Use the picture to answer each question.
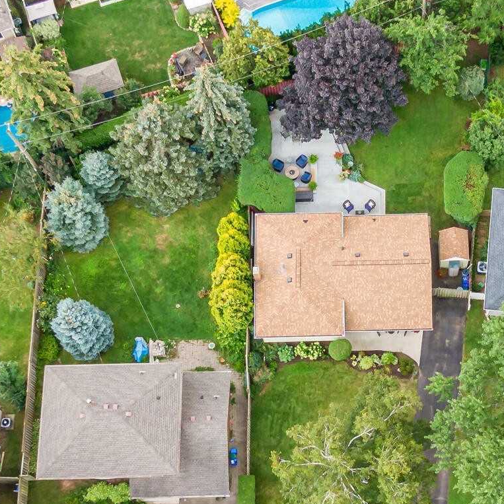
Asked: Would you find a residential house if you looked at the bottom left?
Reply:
Yes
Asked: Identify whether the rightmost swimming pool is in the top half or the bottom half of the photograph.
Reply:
top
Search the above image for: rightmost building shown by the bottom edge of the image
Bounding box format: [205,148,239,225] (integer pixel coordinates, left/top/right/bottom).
[35,362,232,501]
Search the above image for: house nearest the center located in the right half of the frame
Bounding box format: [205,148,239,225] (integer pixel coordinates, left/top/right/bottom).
[251,213,434,345]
